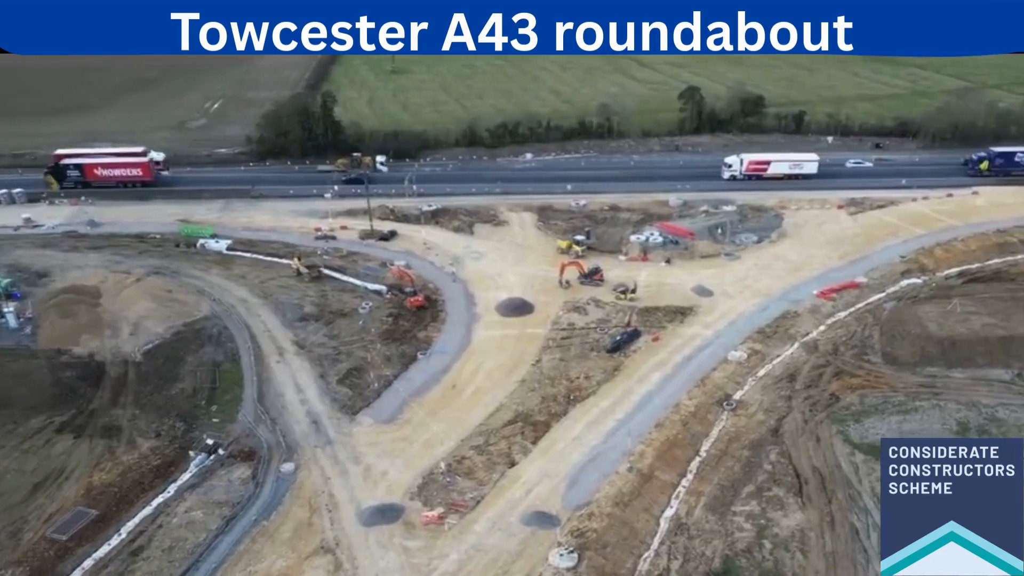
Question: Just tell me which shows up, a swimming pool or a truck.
truck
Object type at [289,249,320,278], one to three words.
truck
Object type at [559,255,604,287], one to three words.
work vehicle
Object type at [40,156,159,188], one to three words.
truck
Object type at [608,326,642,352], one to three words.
car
